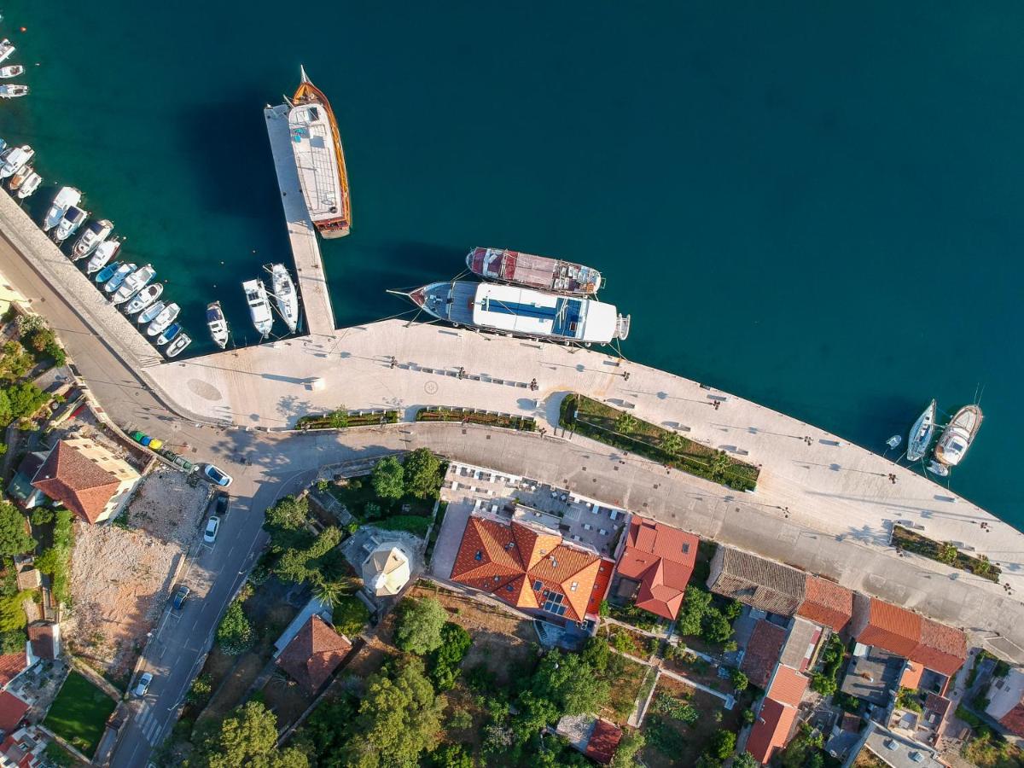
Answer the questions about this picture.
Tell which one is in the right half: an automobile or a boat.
boat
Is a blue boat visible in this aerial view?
Yes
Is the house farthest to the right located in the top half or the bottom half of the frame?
bottom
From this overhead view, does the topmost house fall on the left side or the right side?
left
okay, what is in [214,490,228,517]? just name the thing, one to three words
car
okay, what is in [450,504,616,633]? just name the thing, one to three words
building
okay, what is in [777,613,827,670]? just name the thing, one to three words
house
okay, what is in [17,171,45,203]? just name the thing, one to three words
boat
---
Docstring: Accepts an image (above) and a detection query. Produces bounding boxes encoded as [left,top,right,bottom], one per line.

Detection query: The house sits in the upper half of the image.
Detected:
[0,272,28,329]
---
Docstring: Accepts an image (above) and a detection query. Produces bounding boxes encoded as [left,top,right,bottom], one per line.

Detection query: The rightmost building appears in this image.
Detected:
[974,664,1024,738]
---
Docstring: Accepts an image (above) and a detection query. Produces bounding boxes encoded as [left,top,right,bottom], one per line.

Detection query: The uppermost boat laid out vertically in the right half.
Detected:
[619,313,634,341]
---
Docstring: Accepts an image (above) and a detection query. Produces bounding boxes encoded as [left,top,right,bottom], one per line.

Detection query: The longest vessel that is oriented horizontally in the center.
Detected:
[368,281,629,355]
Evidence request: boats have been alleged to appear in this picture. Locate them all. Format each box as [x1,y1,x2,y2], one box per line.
[933,382,988,486]
[40,186,80,236]
[898,397,970,477]
[0,83,32,98]
[9,166,34,188]
[108,263,158,305]
[104,262,138,294]
[85,239,120,274]
[0,66,27,80]
[619,313,634,341]
[157,321,184,345]
[241,279,270,342]
[167,333,194,356]
[204,300,230,351]
[138,300,166,327]
[883,434,902,457]
[0,42,18,64]
[17,171,45,203]
[122,281,165,316]
[70,220,114,260]
[458,247,606,300]
[0,143,37,186]
[95,261,121,286]
[273,66,351,264]
[54,205,89,247]
[145,302,183,335]
[928,463,953,476]
[262,263,299,339]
